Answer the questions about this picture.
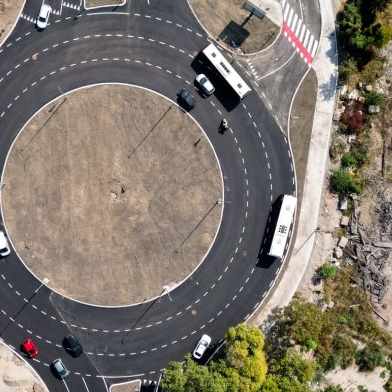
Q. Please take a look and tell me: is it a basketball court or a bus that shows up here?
bus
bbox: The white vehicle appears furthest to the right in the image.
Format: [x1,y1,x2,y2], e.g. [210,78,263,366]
[267,194,297,258]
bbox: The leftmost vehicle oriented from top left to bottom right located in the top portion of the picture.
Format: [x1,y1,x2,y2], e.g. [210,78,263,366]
[178,89,196,111]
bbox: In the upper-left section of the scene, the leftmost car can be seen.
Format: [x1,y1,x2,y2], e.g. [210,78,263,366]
[37,5,51,29]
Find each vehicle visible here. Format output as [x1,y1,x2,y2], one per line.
[193,334,211,358]
[0,231,10,257]
[267,194,297,258]
[178,89,196,111]
[200,42,251,100]
[53,357,70,378]
[195,73,214,96]
[37,5,51,29]
[23,338,38,357]
[63,334,82,357]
